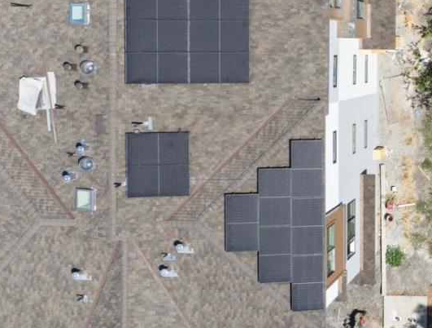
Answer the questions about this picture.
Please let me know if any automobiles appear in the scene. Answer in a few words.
No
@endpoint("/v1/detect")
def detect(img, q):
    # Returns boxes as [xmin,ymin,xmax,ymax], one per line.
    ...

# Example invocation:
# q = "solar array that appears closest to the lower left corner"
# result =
[126,132,191,197]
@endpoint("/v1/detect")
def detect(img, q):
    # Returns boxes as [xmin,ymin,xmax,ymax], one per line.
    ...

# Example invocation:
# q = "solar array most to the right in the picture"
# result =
[225,138,325,310]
